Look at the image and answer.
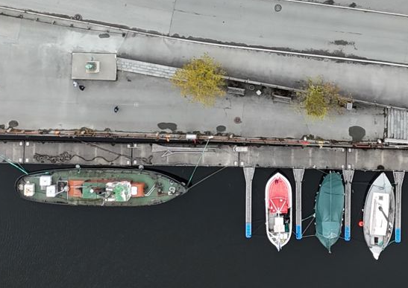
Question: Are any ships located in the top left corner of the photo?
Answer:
No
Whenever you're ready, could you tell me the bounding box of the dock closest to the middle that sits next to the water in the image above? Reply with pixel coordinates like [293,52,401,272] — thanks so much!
[133,143,239,169]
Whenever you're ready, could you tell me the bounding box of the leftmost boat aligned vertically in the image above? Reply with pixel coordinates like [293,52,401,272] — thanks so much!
[265,171,291,252]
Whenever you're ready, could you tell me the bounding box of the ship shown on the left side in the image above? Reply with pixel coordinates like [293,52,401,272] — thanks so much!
[14,164,188,210]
